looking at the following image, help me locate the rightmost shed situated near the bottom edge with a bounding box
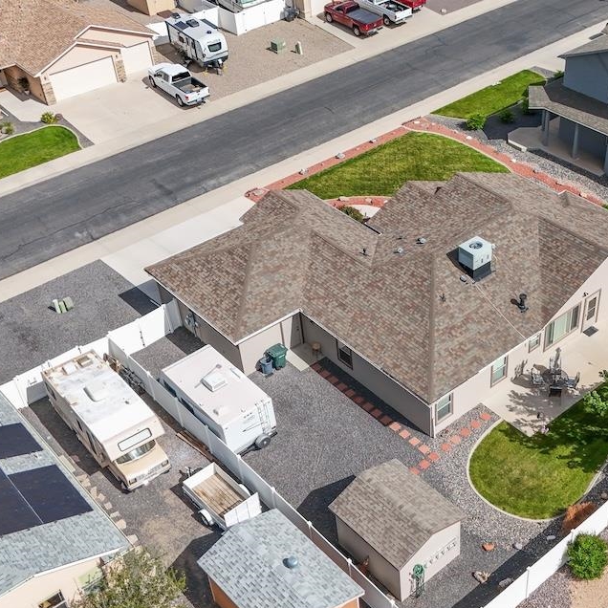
[330,461,463,601]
